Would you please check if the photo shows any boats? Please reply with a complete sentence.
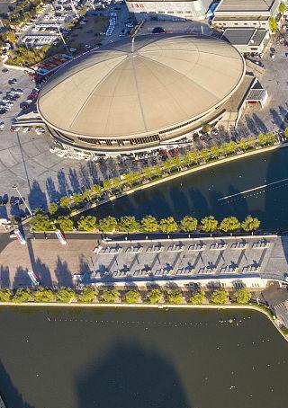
No, no boat is visible in the view.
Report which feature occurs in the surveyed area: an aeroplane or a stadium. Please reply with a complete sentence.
Looking from above, you can make out a stadium.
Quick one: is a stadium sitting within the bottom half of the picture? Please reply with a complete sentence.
No, no stadium appears within the bottom half of the picture.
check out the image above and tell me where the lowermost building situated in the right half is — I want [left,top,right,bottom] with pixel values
[248,75,269,105]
